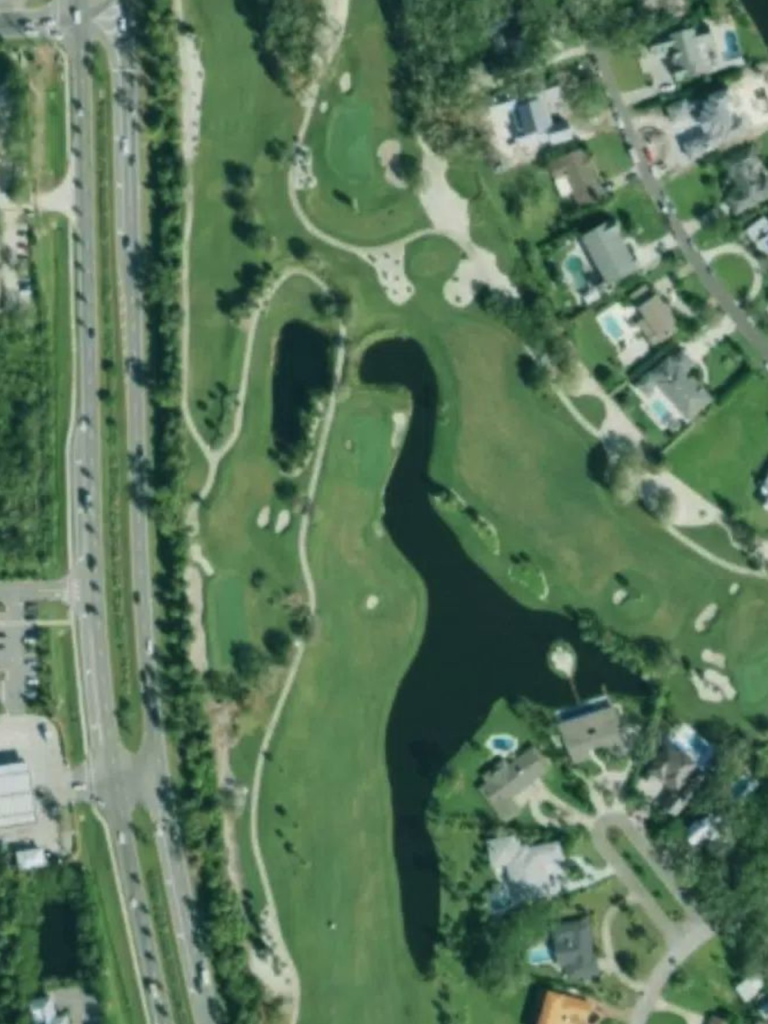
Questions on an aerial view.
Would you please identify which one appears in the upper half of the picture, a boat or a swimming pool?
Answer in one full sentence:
Visible in the upper half of the picture is a swimming pool.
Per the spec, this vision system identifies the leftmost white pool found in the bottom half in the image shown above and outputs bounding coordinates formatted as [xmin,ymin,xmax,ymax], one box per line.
[486,733,519,756]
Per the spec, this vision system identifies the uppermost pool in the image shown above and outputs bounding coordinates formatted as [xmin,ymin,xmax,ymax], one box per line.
[708,17,745,67]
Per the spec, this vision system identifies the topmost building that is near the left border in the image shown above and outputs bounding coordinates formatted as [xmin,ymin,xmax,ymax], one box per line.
[0,764,35,825]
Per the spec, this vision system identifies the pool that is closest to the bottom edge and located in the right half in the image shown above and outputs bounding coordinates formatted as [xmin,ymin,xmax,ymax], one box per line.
[525,942,556,969]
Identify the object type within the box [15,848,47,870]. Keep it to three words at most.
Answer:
shed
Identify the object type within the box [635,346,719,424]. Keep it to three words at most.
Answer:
house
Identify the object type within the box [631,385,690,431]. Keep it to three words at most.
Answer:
swimming pool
